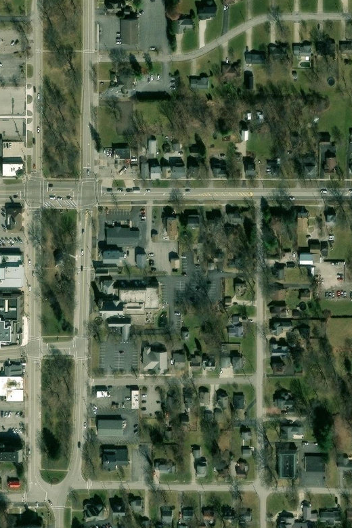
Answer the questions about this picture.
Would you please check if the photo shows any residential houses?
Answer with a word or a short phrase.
Yes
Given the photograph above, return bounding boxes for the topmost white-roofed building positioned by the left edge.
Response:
[3,158,23,178]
